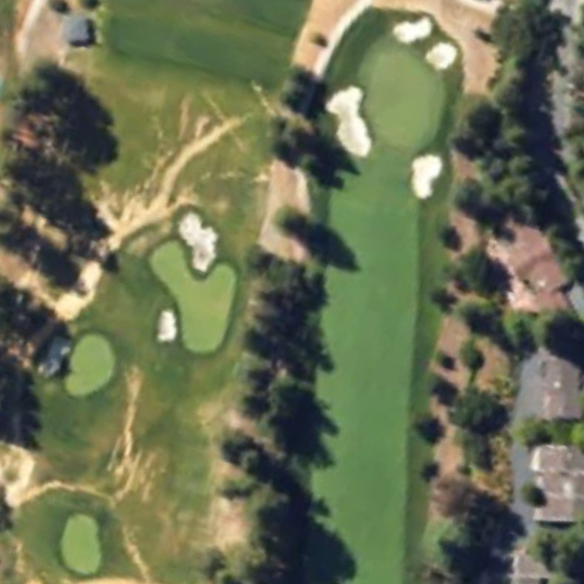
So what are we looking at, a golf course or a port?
golf course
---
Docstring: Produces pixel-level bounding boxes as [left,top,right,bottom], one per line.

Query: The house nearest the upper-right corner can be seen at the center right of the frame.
[494,225,576,313]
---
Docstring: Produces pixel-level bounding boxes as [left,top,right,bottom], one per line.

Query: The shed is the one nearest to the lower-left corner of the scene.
[39,336,70,376]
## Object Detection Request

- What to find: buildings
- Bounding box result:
[533,350,584,420]
[512,547,546,584]
[531,446,584,523]
[39,336,70,376]
[65,15,93,43]
[494,225,576,313]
